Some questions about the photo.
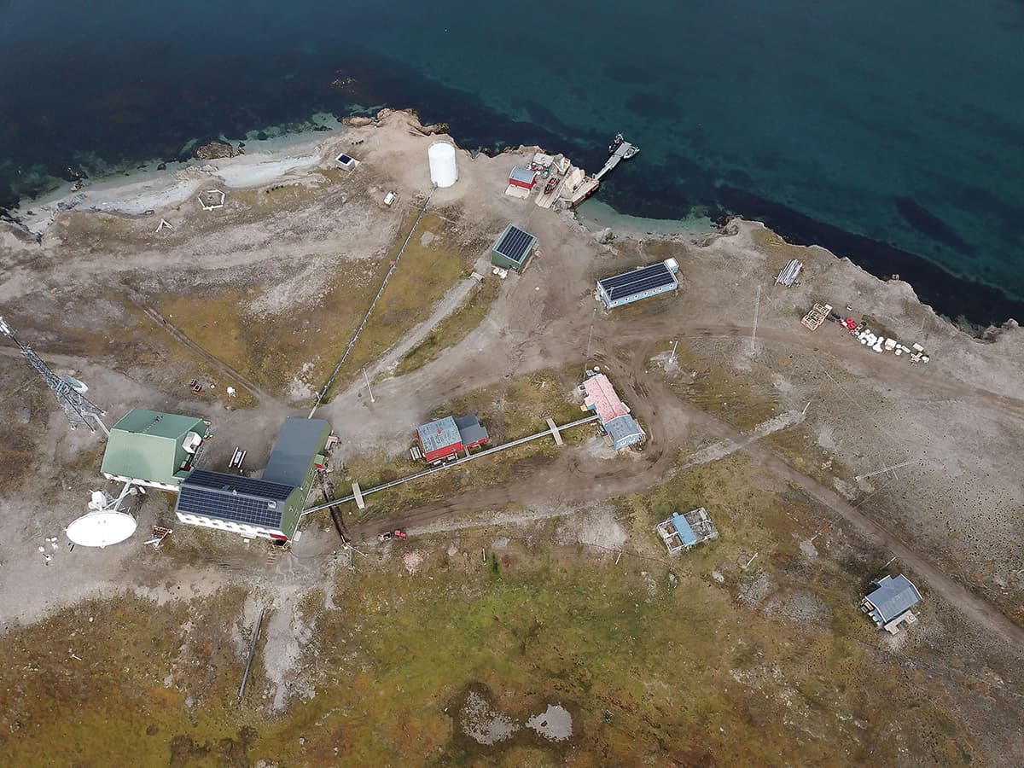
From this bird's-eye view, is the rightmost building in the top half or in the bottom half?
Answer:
bottom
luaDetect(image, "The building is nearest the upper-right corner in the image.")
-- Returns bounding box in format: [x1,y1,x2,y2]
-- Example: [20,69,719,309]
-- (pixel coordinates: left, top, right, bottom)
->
[593,257,680,311]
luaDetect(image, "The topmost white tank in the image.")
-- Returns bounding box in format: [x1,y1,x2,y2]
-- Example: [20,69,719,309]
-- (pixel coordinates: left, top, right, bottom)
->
[428,137,460,189]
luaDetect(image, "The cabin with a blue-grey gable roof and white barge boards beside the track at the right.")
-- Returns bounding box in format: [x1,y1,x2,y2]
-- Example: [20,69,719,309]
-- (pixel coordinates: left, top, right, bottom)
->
[861,572,924,640]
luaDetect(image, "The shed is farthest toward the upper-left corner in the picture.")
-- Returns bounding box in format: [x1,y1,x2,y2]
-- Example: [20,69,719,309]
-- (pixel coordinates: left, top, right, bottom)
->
[335,153,360,175]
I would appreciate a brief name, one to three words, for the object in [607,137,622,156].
boat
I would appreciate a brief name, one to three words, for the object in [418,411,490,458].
house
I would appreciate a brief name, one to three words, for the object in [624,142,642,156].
boat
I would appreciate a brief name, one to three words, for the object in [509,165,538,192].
building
